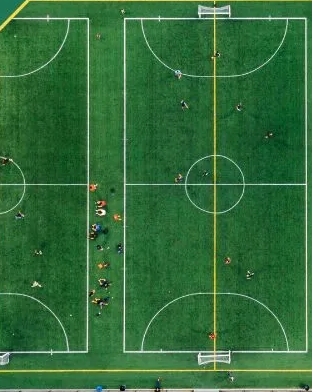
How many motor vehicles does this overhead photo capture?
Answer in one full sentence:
There are no motor vehicles in this view.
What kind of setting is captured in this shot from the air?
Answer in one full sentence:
What you see here is a sports ground.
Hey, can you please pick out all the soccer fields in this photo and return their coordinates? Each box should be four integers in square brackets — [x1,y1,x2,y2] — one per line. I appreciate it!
[122,16,307,352]
[0,0,312,390]
[0,16,89,355]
